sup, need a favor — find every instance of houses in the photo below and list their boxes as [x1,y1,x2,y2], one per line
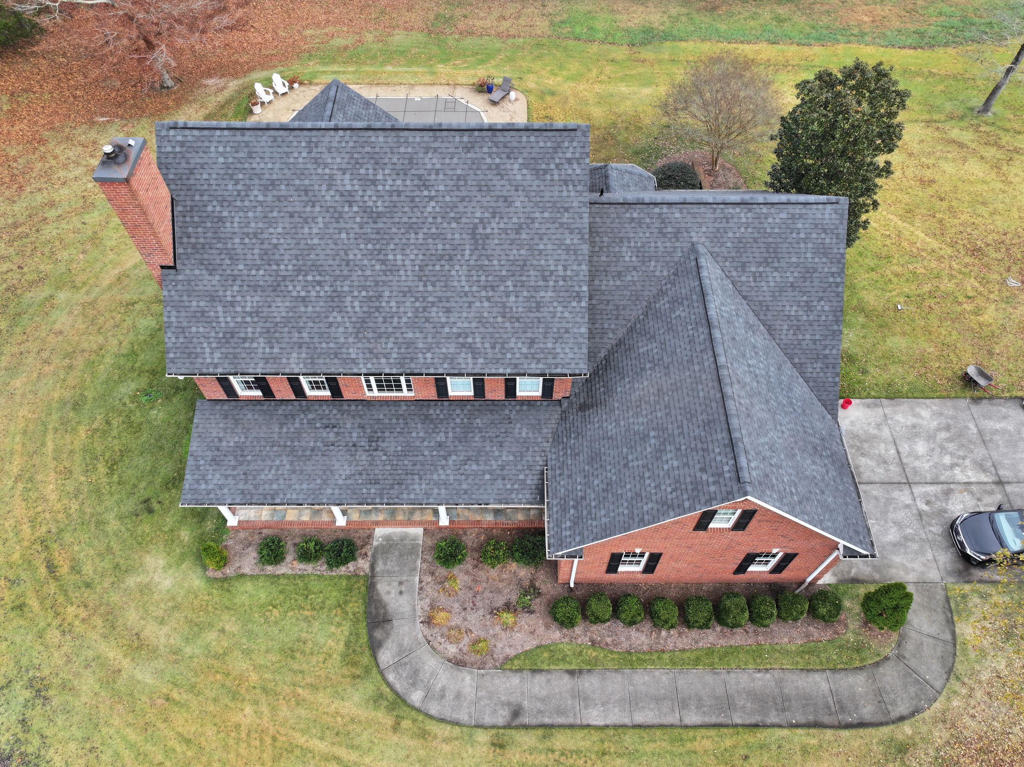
[93,79,884,596]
